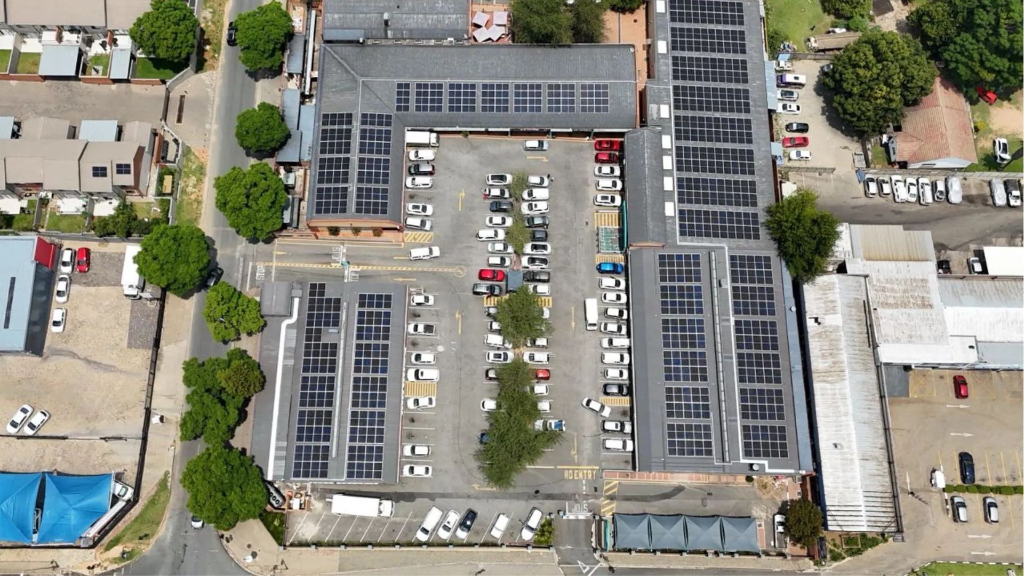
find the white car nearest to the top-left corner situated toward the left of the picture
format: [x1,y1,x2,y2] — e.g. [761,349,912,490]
[56,247,75,273]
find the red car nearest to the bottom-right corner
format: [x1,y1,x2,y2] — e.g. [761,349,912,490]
[954,375,971,399]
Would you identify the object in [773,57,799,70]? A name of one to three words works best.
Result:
vehicle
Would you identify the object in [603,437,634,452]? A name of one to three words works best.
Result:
car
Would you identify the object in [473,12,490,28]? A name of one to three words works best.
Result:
umbrella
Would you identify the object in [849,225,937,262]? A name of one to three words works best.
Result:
building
